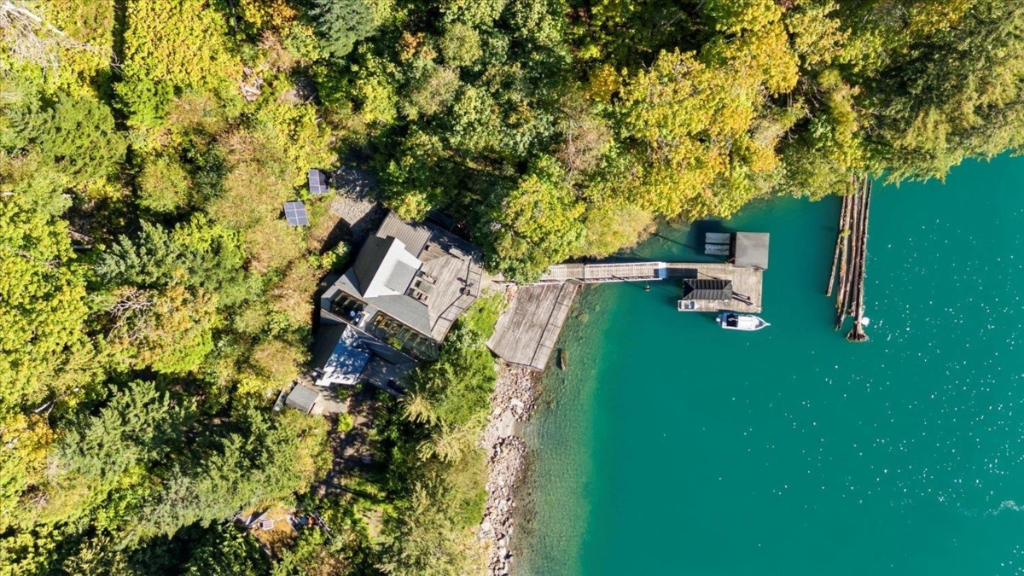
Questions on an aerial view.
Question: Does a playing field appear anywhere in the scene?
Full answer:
No, there isn't any playing field down there.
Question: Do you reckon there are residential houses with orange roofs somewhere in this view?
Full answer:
No, I find no residential house with an orange roof anywhere in the image.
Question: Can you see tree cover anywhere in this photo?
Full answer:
Yes, there's tree cover in this view.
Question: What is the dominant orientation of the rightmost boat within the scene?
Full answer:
In this picture, the rightmost boat is oriented from side to side.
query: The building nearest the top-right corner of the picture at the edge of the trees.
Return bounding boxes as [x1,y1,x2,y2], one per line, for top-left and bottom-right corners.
[727,232,769,269]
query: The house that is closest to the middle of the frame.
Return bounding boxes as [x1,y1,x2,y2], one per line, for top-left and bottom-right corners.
[311,211,439,396]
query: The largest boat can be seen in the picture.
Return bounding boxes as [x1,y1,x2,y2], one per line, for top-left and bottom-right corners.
[718,311,770,331]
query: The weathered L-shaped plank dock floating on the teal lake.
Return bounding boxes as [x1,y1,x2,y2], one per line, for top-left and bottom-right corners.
[667,262,762,313]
